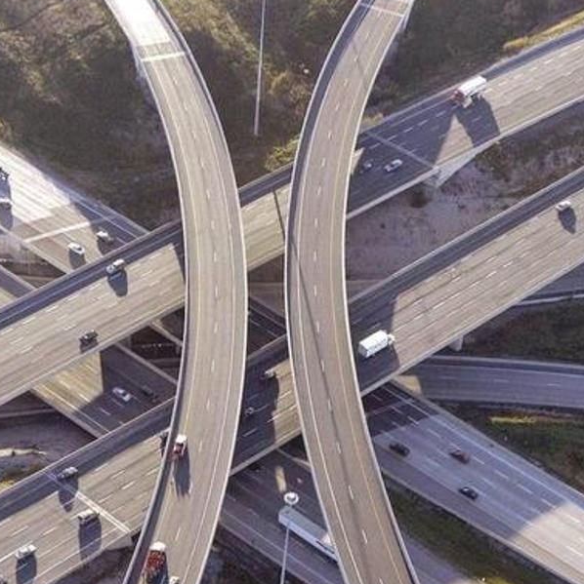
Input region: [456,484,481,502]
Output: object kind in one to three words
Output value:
car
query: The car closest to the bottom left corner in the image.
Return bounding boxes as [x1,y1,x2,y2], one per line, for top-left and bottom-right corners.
[11,543,39,562]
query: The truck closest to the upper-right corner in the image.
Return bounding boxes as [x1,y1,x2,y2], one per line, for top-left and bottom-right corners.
[452,73,486,102]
